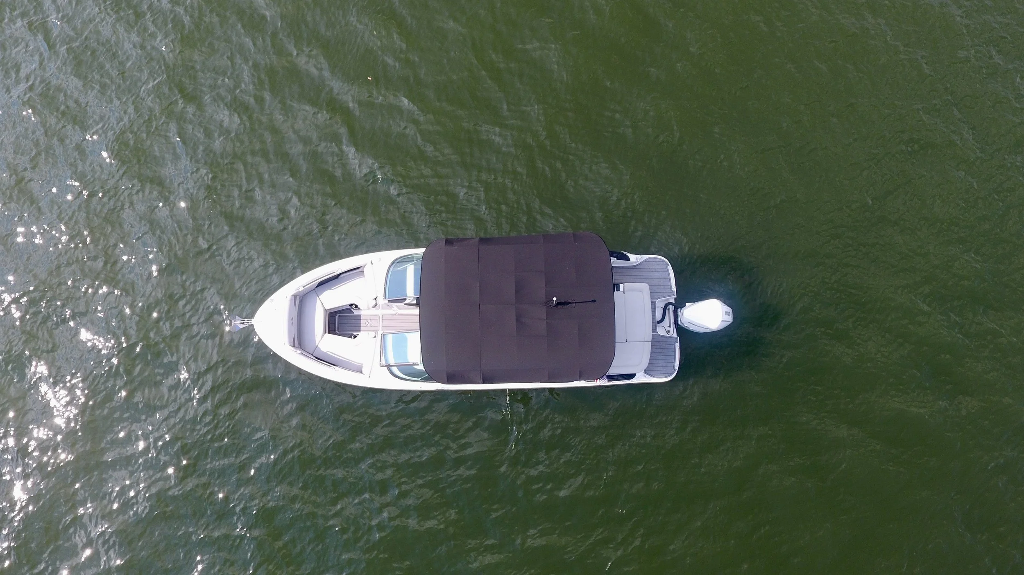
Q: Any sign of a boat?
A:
Yes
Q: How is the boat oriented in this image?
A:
from left to right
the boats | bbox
[244,231,734,391]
